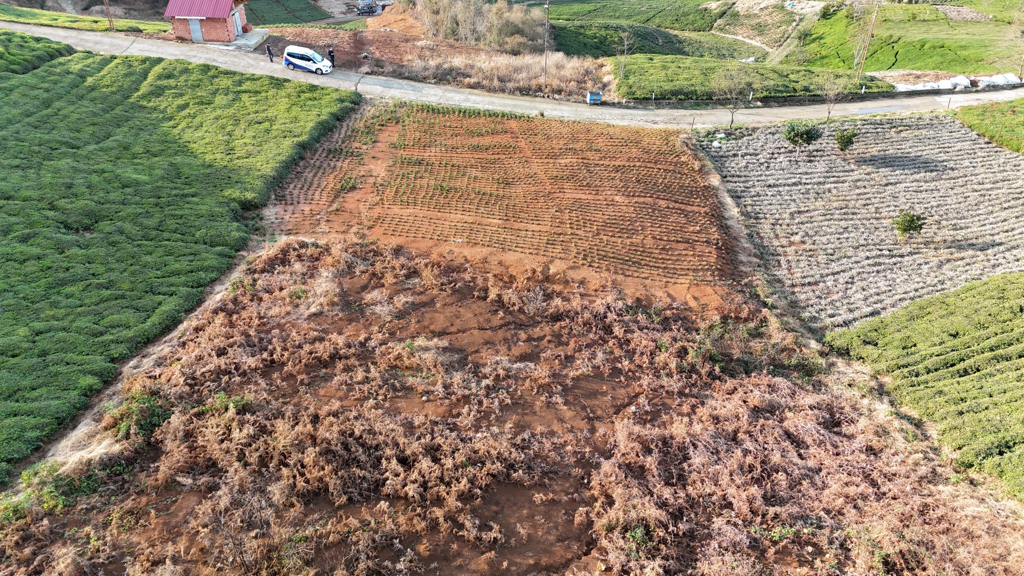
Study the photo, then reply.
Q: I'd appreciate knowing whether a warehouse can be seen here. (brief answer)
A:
No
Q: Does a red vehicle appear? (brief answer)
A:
No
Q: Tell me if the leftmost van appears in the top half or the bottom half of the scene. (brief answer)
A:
top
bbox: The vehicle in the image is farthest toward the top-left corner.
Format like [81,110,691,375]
[281,41,336,73]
